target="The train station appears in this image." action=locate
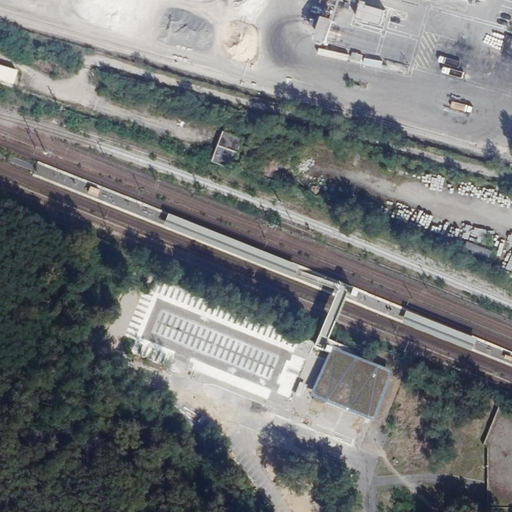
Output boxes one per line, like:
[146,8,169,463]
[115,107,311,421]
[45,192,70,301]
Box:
[10,158,512,366]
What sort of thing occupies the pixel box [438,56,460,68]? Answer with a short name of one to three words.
vehicle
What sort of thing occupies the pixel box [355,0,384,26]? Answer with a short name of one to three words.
building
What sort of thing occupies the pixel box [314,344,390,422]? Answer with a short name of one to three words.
building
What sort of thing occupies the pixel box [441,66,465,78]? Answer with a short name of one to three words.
vehicle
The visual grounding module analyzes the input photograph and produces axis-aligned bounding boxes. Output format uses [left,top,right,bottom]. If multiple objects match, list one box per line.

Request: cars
[496,18,508,25]
[500,13,512,20]
[390,17,401,22]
